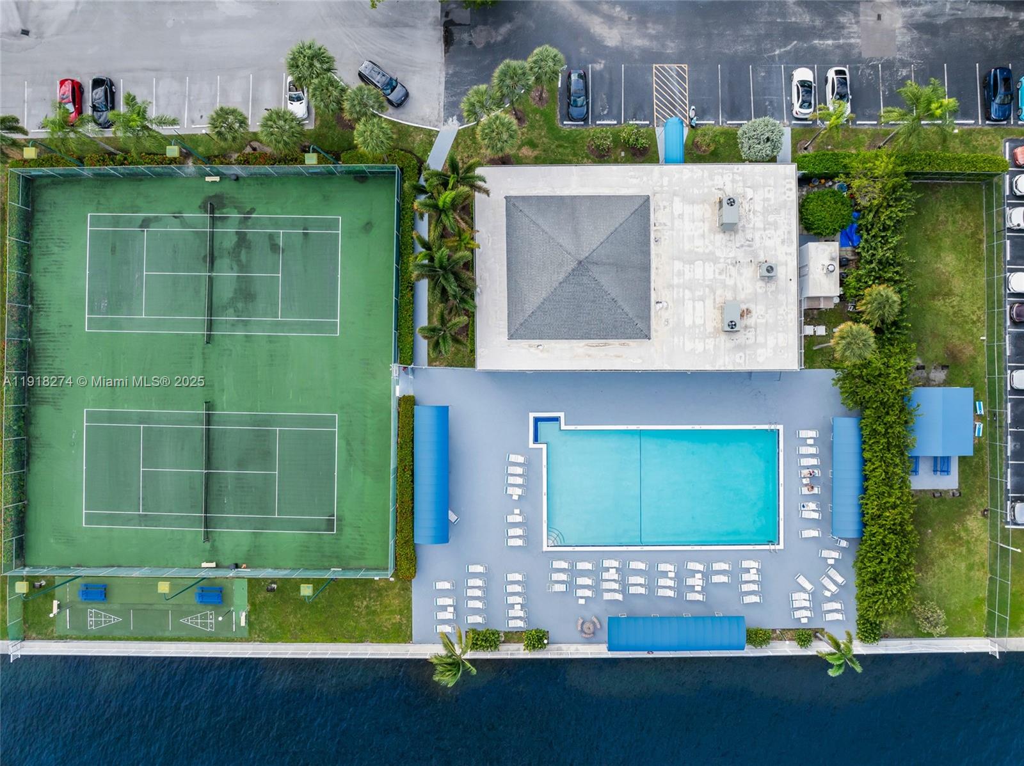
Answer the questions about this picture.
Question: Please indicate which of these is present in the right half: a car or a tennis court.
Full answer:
The one visible in the right half is a car.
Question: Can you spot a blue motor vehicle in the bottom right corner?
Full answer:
No, no blue motor vehicle appears in the bottom right corner.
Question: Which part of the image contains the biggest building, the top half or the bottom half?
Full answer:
You can find the biggest building in the top half.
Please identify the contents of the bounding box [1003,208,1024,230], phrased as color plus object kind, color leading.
white car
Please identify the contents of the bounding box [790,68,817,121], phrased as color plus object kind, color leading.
white car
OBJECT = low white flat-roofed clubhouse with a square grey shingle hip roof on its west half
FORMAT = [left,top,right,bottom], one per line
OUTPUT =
[474,163,801,372]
